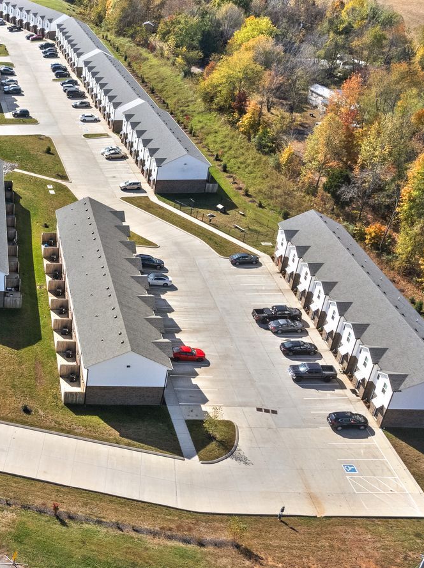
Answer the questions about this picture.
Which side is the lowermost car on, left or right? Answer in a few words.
right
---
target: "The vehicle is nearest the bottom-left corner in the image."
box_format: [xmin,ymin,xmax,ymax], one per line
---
[170,346,208,363]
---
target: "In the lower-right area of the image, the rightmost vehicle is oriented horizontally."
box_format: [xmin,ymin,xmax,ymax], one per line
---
[325,411,371,431]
